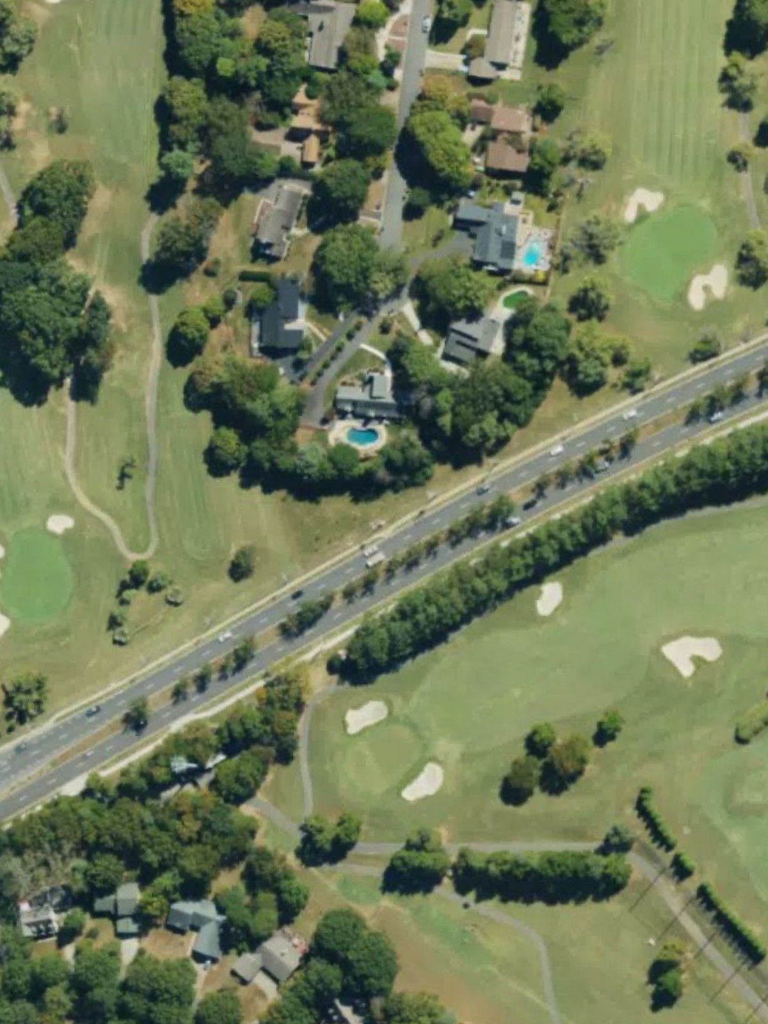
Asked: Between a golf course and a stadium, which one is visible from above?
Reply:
golf course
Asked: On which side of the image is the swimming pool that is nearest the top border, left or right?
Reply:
right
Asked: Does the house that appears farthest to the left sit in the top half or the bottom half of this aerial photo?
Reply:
bottom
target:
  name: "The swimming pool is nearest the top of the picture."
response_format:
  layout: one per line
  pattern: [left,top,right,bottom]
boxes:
[516,221,552,272]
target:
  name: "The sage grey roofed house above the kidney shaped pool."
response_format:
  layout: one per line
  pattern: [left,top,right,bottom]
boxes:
[335,374,398,418]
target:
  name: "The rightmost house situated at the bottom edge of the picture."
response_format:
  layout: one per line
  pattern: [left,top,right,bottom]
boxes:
[232,931,303,984]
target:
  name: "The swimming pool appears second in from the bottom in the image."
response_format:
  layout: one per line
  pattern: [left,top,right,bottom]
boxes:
[497,287,534,316]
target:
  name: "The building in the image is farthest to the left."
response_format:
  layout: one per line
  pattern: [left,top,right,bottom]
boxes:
[18,898,61,938]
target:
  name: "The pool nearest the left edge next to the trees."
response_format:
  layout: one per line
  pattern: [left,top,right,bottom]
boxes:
[329,419,388,455]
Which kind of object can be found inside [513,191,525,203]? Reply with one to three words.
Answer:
gazebo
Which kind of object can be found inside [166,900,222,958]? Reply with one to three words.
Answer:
house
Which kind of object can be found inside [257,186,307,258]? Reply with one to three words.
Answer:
house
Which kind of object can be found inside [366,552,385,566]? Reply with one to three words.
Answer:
vehicle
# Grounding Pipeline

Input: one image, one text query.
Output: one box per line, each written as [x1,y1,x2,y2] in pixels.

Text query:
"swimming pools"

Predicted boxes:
[497,287,534,316]
[329,419,388,455]
[516,221,552,272]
